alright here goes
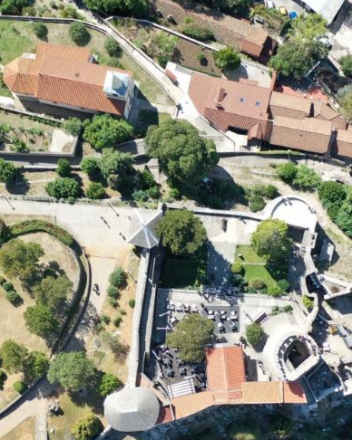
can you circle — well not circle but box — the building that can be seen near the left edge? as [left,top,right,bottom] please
[3,43,136,125]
